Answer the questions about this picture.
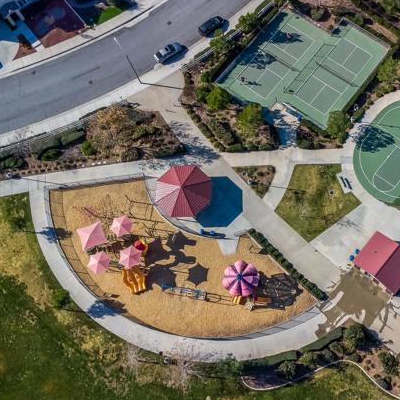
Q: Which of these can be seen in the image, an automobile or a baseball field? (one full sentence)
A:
There is an automobile in the scene.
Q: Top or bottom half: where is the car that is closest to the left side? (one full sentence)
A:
The top half of the photo is where the car that is closest to the left side is.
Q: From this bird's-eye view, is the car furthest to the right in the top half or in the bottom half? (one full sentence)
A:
It is in the top half that the car furthest to the right appears.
